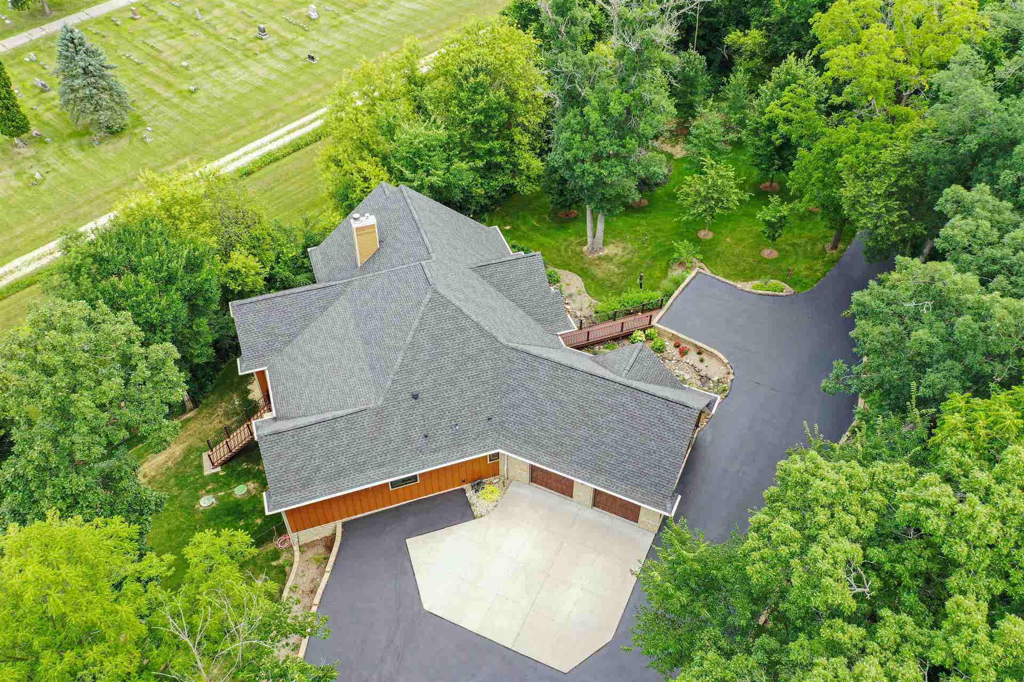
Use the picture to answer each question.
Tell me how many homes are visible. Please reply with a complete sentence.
My tally gives 1 home in this photo.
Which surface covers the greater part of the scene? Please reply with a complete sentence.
For the most part, this view shows trees.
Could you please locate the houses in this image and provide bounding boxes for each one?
[231,180,721,542]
